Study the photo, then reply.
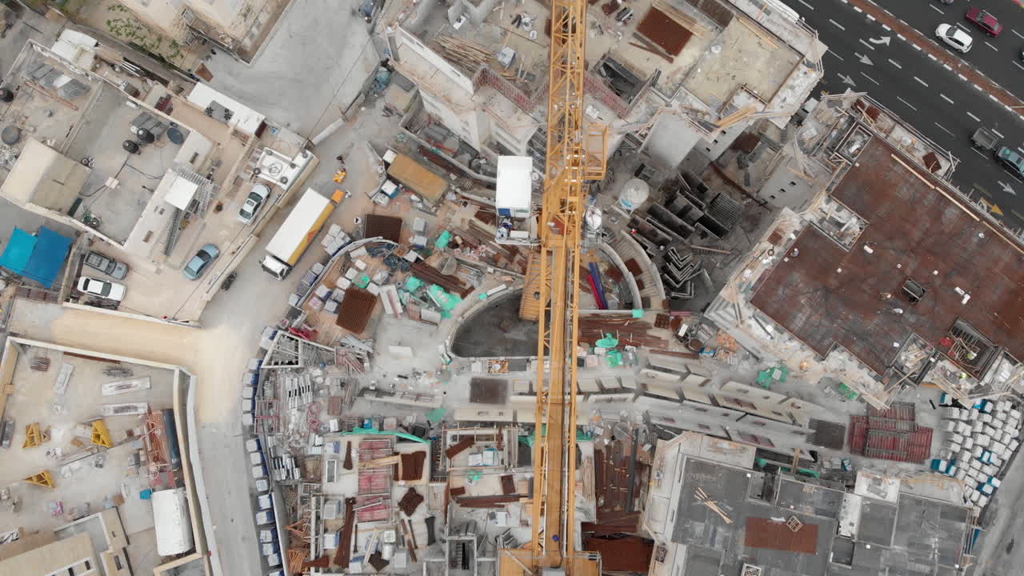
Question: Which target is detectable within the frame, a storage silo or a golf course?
storage silo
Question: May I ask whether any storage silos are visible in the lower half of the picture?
No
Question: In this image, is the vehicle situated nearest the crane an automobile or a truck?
truck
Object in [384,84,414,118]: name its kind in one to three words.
shed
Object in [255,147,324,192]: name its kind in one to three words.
building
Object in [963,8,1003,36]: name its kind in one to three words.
car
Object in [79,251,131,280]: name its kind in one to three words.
truck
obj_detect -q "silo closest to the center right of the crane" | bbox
[611,182,648,220]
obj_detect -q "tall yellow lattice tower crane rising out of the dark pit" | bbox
[495,0,610,576]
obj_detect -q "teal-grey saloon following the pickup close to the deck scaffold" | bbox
[994,146,1024,180]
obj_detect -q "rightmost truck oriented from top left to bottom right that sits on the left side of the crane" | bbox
[382,145,451,204]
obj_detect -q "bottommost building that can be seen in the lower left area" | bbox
[0,503,150,576]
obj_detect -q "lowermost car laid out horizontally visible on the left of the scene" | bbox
[76,276,129,302]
